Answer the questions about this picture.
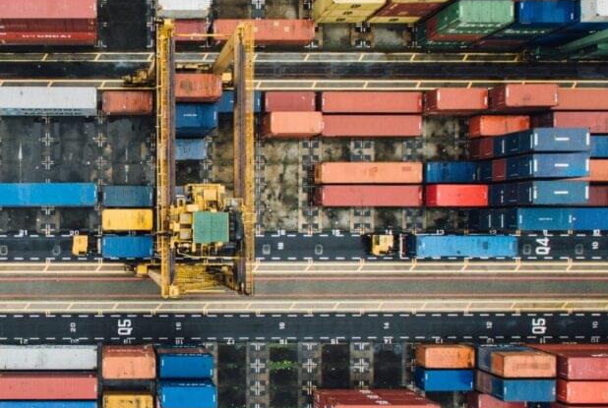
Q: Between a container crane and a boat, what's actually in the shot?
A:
container crane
